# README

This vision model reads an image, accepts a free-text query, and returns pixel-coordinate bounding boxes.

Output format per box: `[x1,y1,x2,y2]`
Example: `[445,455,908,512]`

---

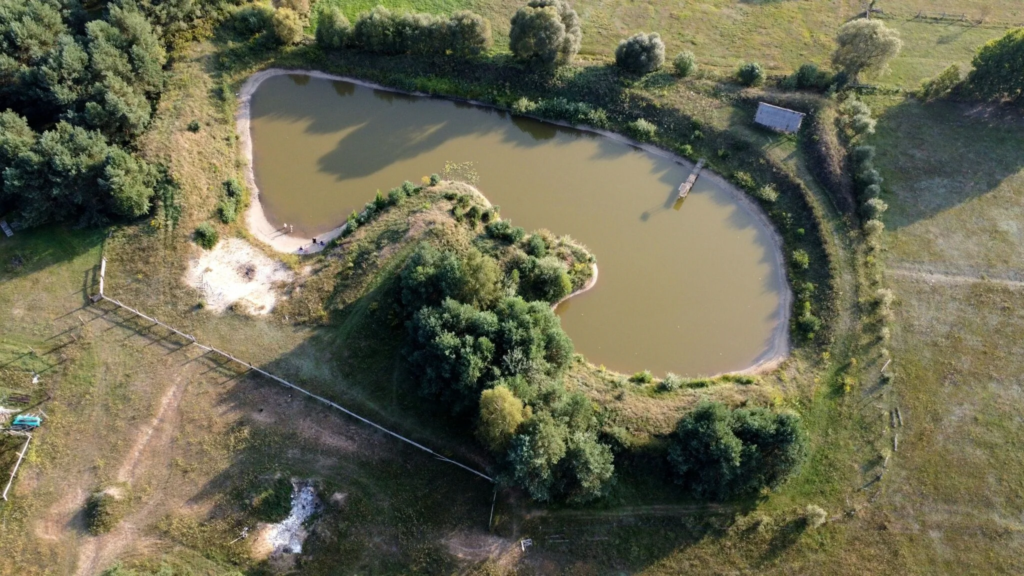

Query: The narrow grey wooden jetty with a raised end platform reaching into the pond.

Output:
[678,159,705,202]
